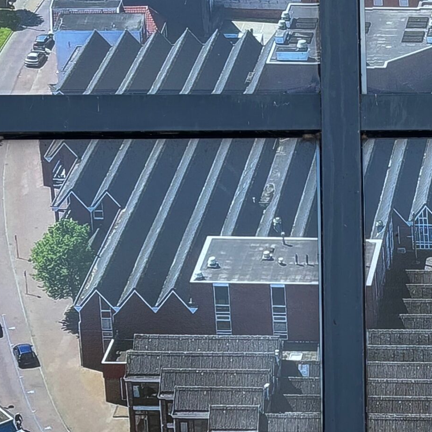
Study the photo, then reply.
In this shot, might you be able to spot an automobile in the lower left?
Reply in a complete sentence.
Yes, looking in the lower left, one can make out an automobile.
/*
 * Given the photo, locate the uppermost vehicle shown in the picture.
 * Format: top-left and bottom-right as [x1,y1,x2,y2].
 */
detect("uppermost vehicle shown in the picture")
[32,32,54,49]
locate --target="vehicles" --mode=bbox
[32,32,54,49]
[14,344,39,370]
[21,50,48,69]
